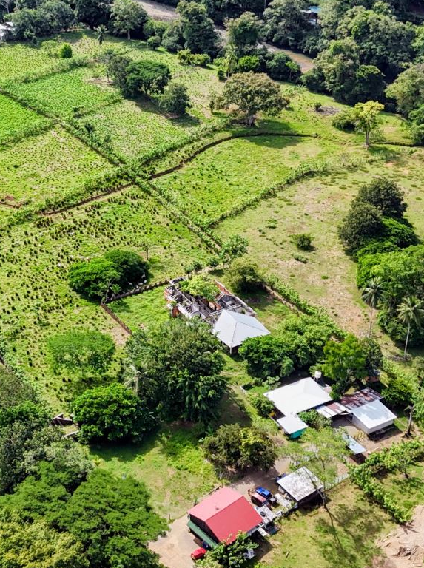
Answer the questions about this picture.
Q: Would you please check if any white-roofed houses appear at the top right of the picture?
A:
No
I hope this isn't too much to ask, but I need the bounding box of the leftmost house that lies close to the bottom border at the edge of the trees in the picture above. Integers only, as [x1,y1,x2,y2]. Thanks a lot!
[182,488,261,552]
